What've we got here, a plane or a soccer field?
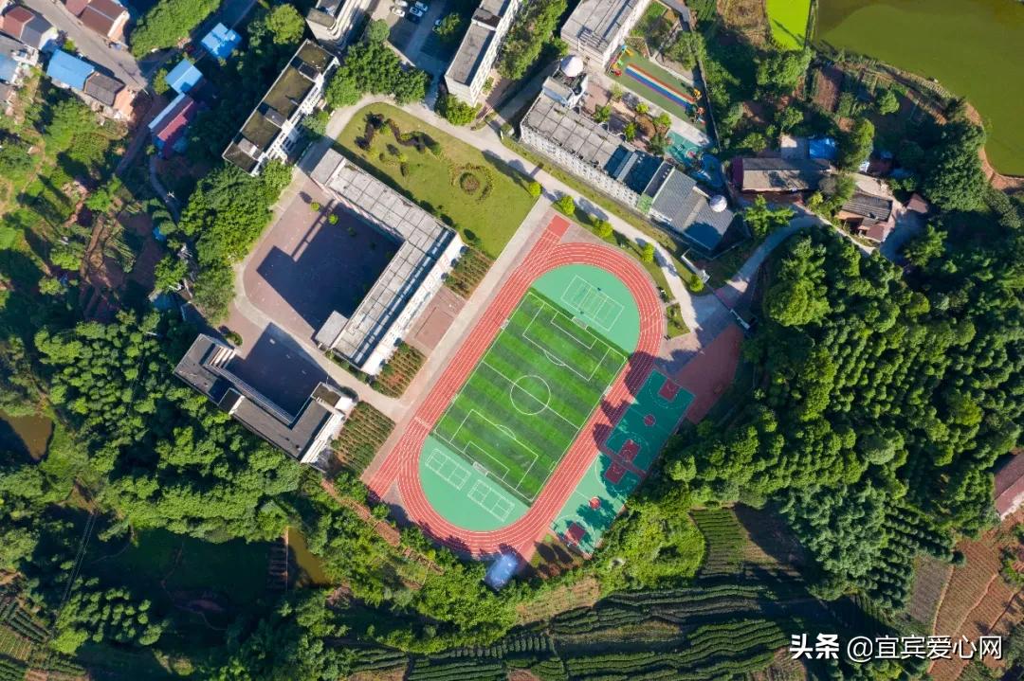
soccer field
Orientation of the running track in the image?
at an angle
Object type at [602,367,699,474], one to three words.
basketball court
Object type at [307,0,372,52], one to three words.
building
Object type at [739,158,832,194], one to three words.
house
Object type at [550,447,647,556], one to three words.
basketball court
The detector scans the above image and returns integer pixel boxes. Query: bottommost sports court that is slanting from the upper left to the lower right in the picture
[467,478,515,521]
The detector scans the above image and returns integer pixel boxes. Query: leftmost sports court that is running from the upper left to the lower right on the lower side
[424,448,472,490]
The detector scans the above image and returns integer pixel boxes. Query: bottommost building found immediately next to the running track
[172,334,360,462]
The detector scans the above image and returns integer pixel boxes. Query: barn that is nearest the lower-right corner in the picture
[992,453,1024,514]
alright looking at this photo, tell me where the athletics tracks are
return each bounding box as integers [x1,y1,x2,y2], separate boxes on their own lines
[366,215,661,563]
